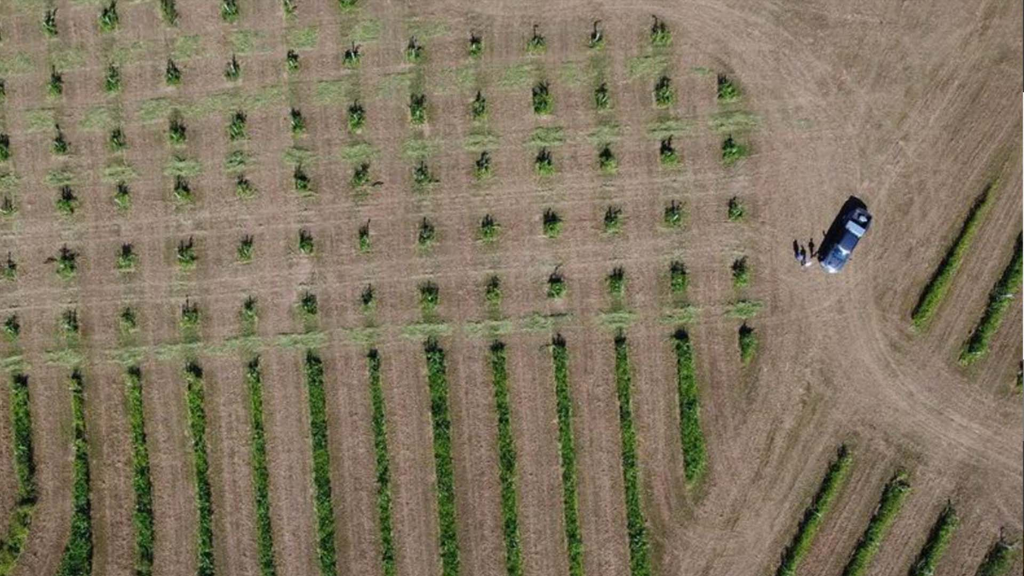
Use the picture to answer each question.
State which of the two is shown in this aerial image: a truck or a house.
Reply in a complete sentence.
This aerial view contains a truck.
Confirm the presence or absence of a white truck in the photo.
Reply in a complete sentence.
No, no white truck is visible in the view.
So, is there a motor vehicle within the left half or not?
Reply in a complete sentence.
No, I see no motor vehicle within the left half.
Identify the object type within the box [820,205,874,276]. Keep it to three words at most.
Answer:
truck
